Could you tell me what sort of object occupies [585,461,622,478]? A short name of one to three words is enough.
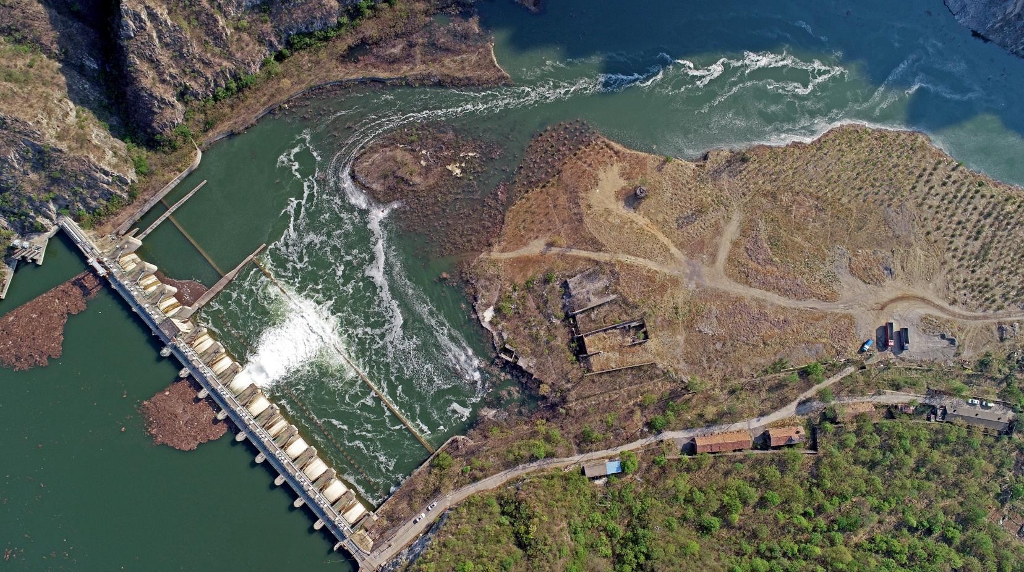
shed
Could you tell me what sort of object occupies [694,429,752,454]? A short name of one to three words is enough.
house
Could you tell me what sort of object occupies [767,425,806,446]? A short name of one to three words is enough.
house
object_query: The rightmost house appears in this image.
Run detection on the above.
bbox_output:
[924,404,1013,431]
